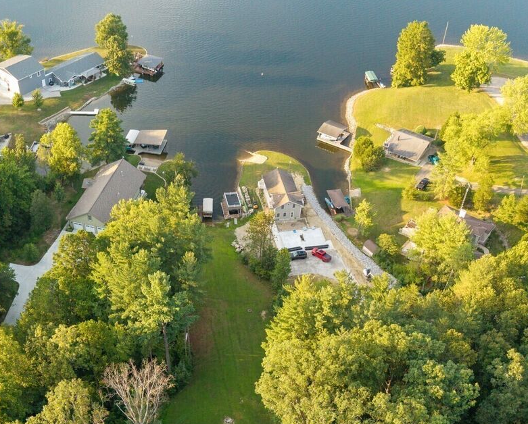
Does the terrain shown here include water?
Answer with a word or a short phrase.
Yes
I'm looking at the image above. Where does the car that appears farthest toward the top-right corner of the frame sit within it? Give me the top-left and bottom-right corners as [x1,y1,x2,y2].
[416,175,431,189]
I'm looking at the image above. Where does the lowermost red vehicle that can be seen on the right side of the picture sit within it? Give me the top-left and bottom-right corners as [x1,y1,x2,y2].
[309,246,335,263]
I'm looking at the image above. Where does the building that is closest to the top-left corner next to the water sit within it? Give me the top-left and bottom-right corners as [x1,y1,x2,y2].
[0,54,49,96]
